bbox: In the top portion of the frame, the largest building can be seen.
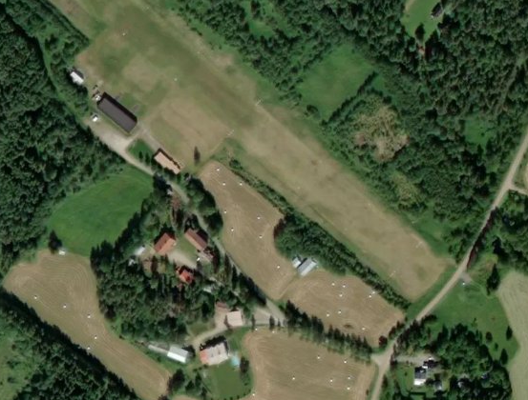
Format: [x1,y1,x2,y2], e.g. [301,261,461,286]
[98,98,137,132]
